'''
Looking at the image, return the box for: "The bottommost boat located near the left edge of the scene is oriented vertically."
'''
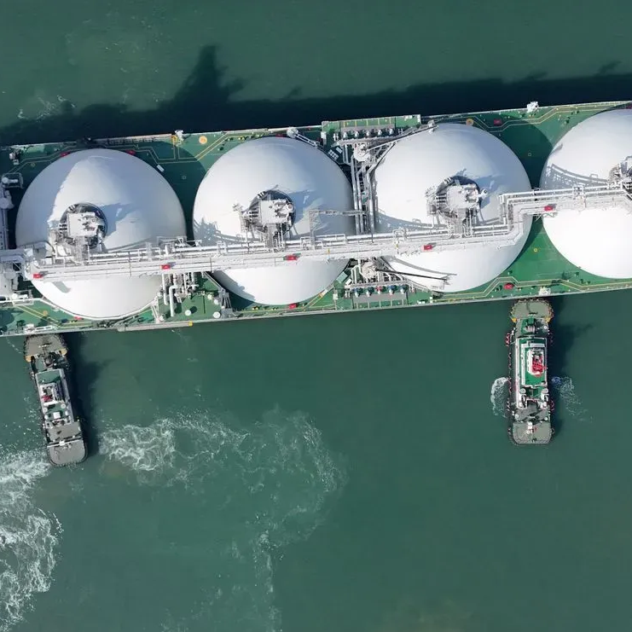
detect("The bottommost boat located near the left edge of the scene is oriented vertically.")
[21,332,90,467]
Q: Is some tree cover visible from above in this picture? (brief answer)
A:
No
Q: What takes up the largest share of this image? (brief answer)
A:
water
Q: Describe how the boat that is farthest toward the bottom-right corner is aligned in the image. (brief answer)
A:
from top to bottom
